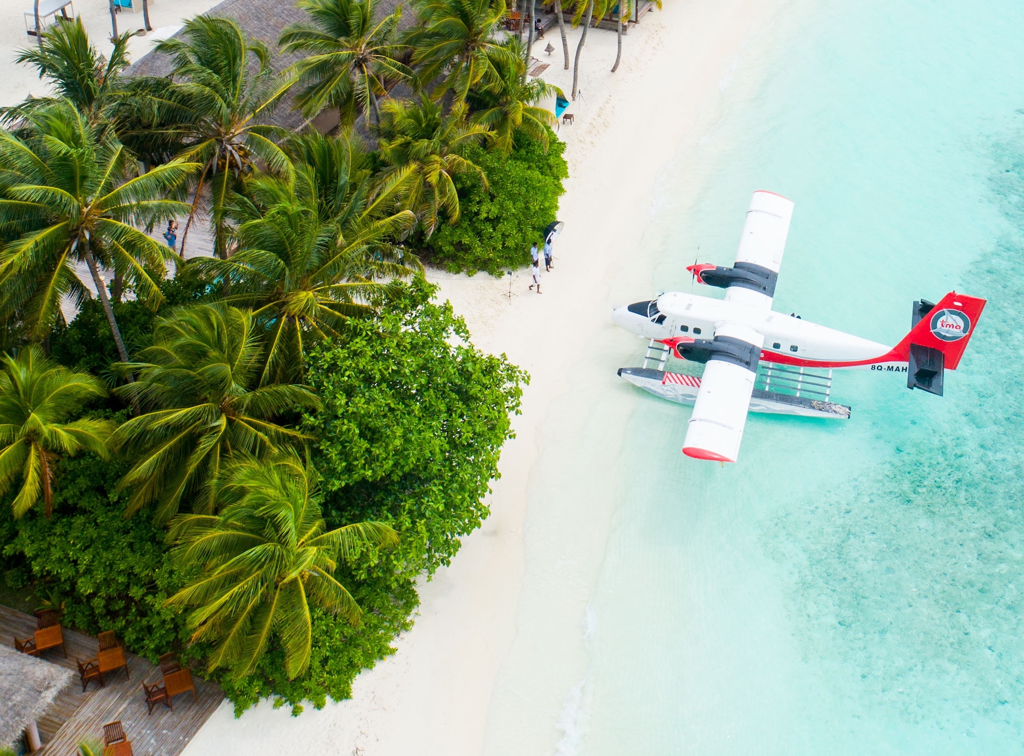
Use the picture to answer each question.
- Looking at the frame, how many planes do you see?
1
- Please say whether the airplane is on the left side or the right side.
right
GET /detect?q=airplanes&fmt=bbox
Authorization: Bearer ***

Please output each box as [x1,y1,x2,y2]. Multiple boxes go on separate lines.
[612,191,986,462]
